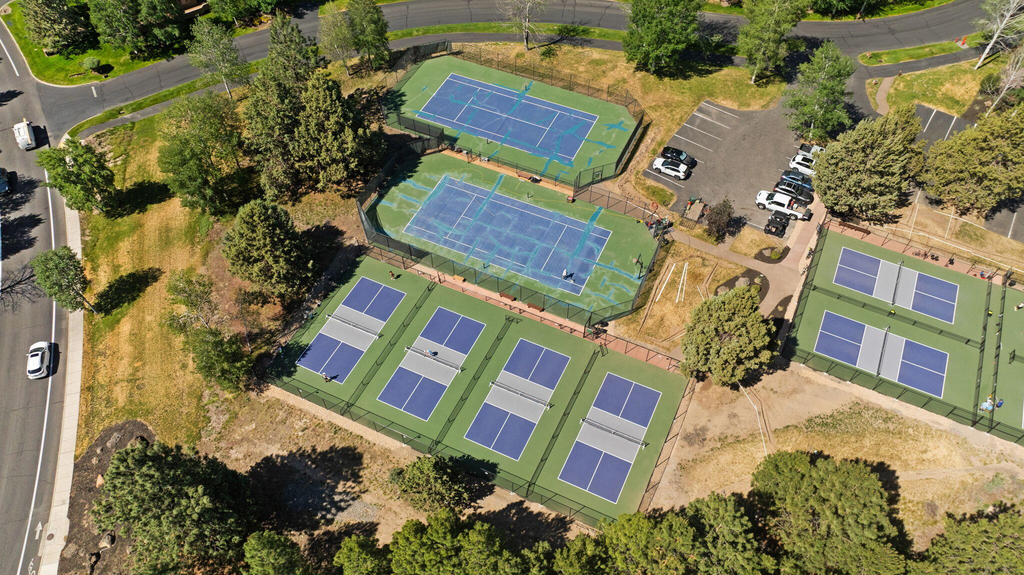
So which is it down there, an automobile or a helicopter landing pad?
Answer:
automobile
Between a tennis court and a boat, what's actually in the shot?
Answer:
tennis court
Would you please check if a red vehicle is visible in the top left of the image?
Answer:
No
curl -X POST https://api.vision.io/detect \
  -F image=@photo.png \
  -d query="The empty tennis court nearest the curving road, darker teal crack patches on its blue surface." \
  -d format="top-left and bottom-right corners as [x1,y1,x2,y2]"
[379,55,637,191]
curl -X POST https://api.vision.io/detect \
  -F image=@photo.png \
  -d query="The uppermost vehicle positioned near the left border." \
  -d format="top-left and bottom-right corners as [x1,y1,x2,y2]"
[13,122,36,149]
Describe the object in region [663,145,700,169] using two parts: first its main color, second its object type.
black car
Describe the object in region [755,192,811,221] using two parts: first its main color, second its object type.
white truck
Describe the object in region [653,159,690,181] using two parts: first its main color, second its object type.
white car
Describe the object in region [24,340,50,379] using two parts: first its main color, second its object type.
white car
